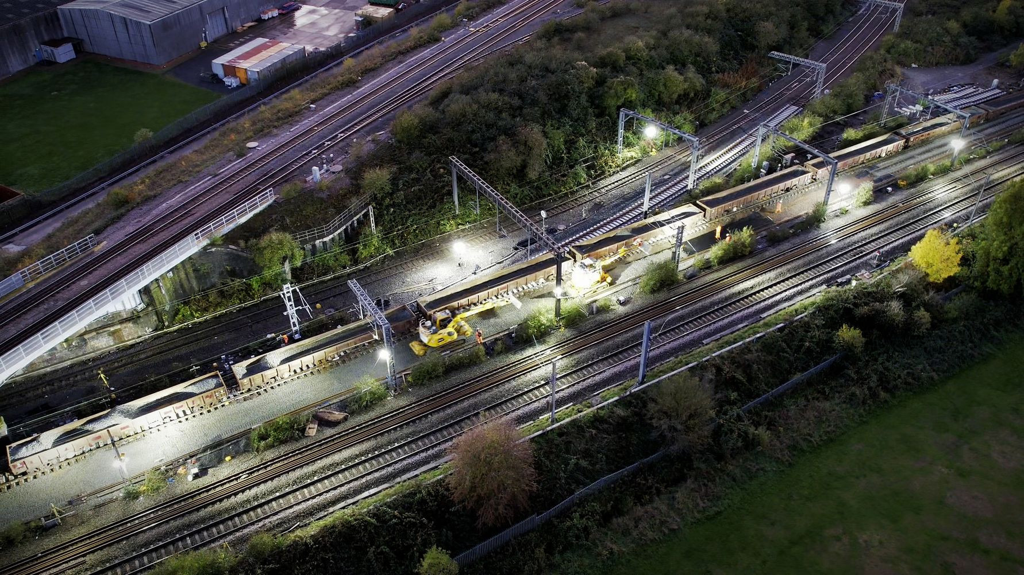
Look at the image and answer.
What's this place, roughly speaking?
rail yard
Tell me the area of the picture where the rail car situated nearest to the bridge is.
bottom left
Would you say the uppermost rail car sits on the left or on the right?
right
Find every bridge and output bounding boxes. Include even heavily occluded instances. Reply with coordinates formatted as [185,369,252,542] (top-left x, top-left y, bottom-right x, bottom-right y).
[0,190,282,387]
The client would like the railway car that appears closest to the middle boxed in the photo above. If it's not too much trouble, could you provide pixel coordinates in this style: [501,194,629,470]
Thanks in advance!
[411,248,574,324]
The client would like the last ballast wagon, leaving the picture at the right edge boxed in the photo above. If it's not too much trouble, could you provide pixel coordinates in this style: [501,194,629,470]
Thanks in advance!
[966,80,1024,120]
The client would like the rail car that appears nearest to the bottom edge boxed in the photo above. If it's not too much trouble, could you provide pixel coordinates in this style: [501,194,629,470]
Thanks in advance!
[5,367,235,475]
